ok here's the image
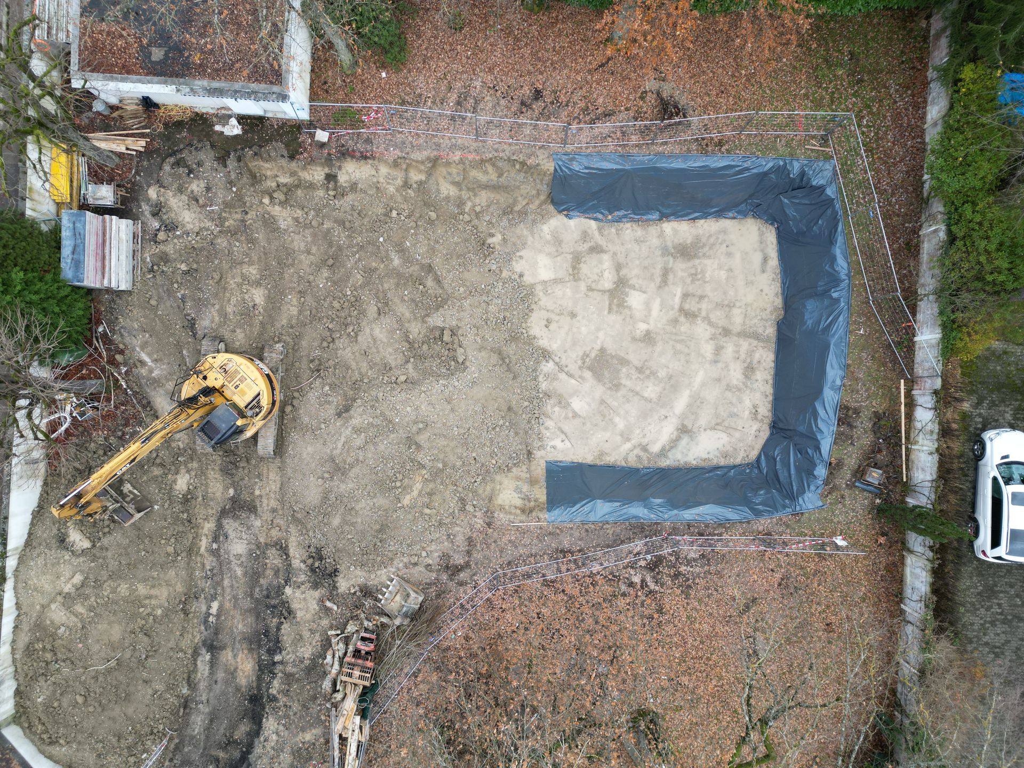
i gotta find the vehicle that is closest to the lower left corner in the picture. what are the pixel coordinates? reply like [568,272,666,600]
[55,339,288,527]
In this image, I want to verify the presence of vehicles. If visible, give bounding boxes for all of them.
[55,339,288,527]
[973,429,1024,564]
